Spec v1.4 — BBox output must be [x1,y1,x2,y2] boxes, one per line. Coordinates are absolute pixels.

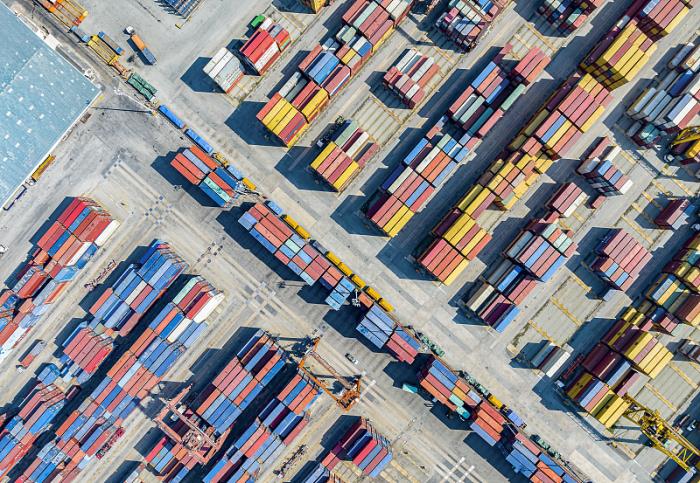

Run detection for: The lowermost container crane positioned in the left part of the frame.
[149,383,234,468]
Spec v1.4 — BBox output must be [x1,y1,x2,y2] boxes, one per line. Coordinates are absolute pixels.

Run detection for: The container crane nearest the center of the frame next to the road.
[291,334,360,409]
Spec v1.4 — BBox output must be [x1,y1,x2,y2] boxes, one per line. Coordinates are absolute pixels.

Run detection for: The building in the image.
[0,0,107,214]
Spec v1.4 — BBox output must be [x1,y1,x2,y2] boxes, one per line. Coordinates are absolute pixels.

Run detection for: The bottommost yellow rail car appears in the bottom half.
[485,392,504,411]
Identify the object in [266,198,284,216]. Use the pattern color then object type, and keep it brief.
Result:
blue rail car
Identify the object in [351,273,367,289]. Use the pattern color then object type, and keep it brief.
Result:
yellow rail car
